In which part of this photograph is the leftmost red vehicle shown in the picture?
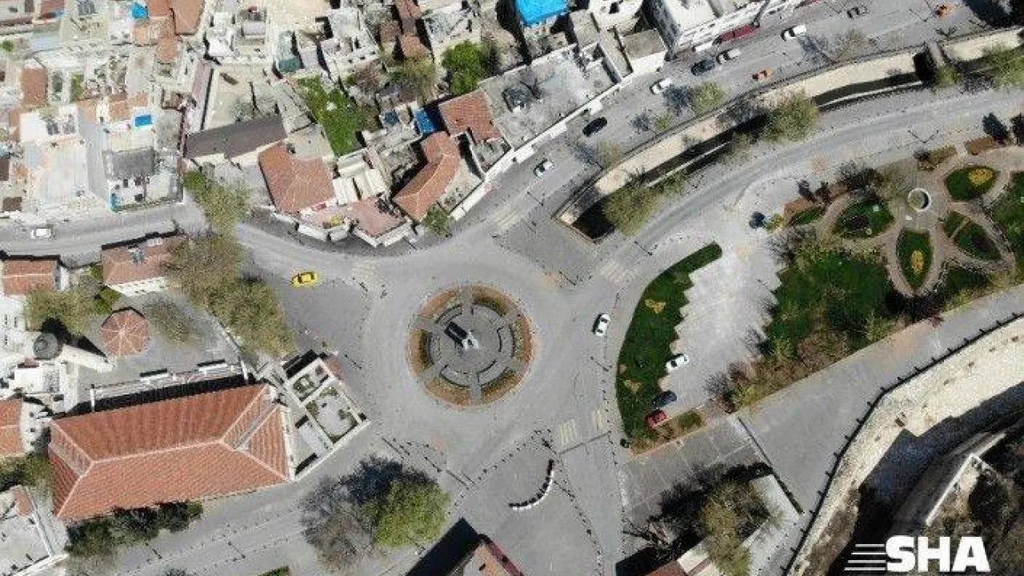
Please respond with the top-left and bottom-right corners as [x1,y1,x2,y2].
[646,410,669,427]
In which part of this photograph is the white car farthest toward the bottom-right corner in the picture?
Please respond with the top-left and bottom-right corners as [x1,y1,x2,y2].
[666,353,691,371]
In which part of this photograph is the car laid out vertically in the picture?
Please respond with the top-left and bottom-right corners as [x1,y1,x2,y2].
[596,312,609,337]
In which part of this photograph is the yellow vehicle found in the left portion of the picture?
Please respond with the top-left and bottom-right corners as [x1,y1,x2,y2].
[292,272,316,285]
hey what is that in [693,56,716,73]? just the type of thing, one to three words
car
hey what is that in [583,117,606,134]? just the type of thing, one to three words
car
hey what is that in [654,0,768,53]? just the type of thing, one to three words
building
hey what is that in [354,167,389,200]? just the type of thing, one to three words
shed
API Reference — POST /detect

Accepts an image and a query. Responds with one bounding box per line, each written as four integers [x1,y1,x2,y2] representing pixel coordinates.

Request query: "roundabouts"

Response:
[408,284,534,409]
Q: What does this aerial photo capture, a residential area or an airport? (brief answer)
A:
residential area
